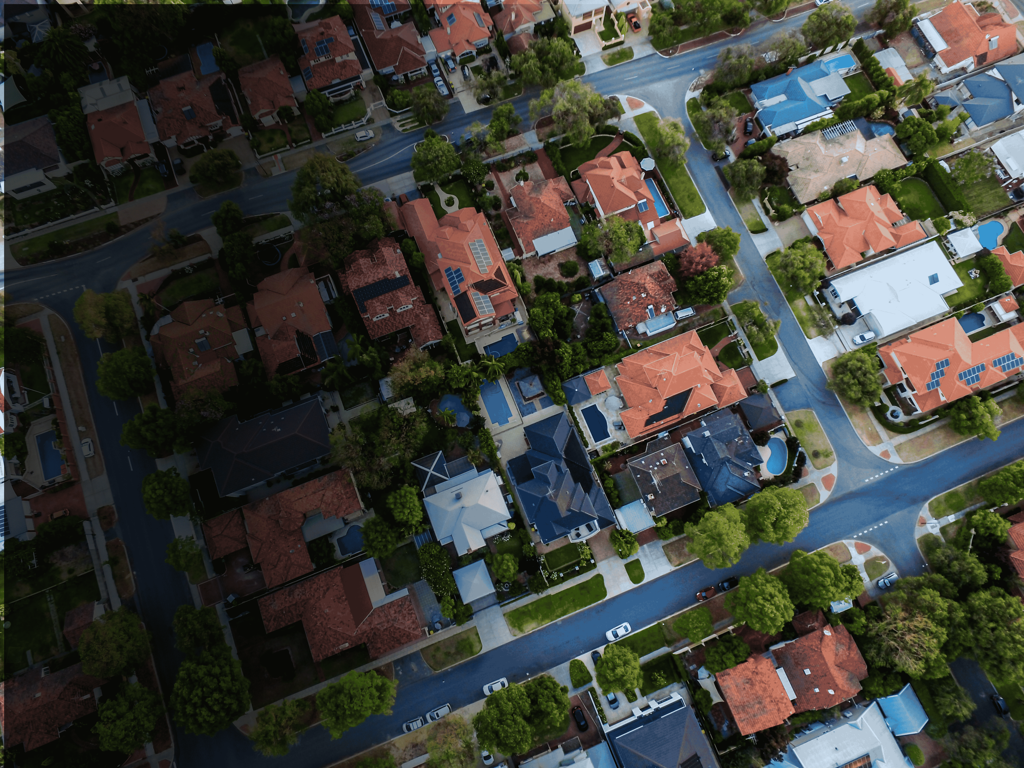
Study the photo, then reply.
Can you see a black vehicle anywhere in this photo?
Yes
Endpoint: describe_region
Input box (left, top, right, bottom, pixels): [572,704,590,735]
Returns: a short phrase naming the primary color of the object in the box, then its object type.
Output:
black car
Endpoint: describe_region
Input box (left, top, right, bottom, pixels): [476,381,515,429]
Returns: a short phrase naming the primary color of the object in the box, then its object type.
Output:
blue swimming pool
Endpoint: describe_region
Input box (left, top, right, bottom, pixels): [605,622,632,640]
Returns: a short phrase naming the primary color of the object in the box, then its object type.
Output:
white car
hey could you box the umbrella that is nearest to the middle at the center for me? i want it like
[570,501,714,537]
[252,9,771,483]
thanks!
[454,411,472,428]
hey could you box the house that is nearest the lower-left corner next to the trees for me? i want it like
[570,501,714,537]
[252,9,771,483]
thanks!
[0,647,119,753]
